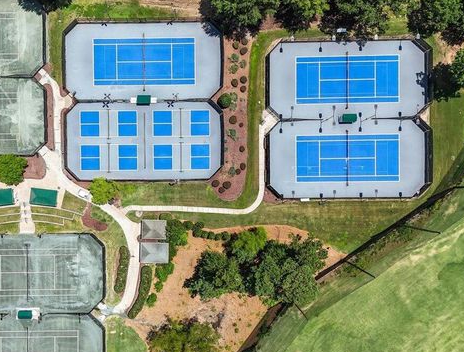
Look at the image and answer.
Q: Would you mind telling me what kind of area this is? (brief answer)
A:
sports ground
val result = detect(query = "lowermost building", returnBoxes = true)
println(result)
[139,242,169,263]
